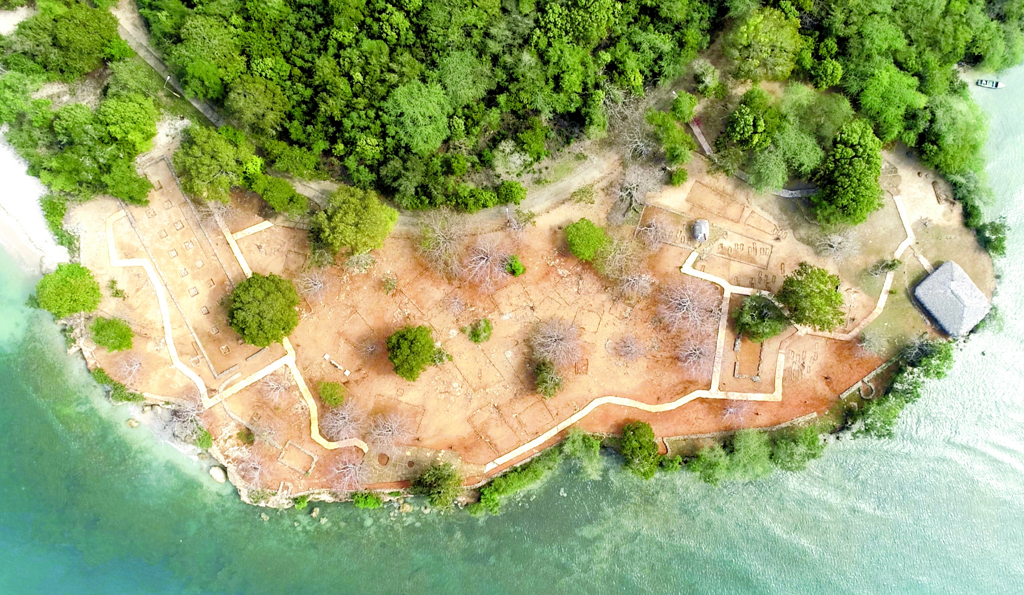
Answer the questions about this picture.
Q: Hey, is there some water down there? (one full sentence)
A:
Yes, the picture does contain water.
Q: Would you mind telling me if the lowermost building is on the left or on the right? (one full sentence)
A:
The lowermost building appears in the right half of the scene.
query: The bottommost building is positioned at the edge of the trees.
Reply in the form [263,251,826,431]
[734,328,766,383]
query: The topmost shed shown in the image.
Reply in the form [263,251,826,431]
[691,218,711,244]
